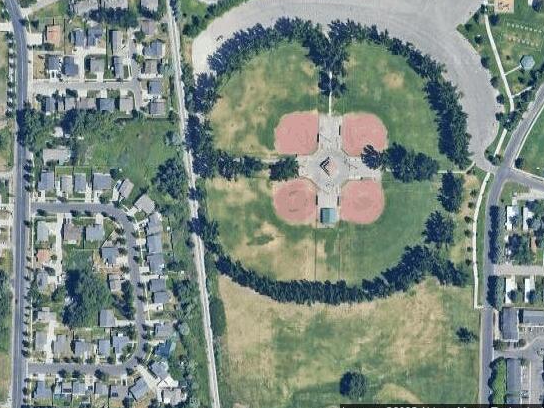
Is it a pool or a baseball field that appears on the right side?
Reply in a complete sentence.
The feature located on the right side is a baseball field.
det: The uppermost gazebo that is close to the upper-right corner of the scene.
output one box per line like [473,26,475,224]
[522,55,535,69]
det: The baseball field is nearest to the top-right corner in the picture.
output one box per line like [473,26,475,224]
[339,48,450,157]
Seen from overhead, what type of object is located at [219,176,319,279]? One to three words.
baseball field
